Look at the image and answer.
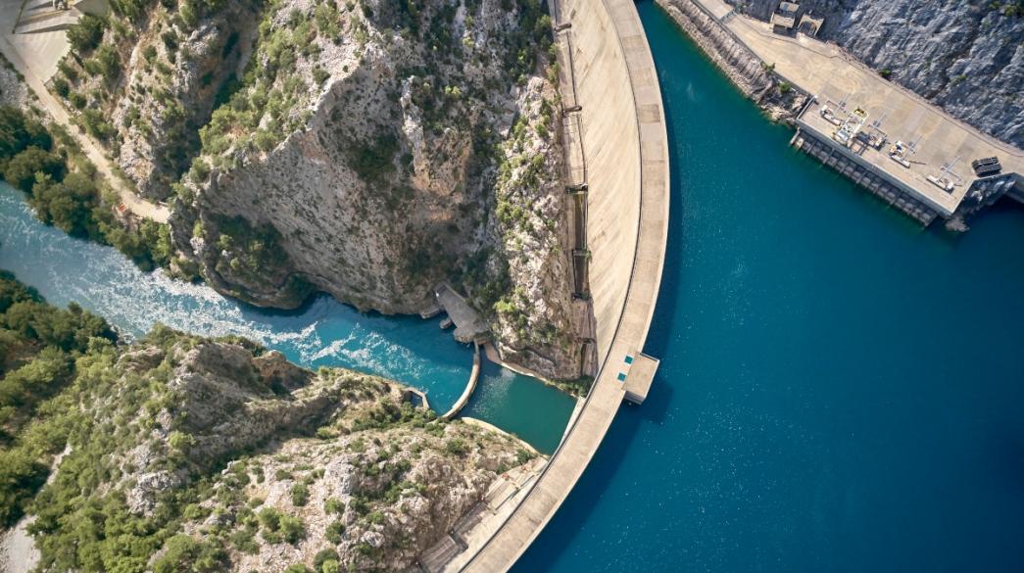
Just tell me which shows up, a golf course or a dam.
dam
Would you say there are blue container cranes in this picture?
No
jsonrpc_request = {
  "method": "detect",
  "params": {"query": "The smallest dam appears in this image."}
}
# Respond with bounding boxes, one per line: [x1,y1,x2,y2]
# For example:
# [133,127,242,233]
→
[441,341,481,419]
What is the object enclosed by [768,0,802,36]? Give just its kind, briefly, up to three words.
building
